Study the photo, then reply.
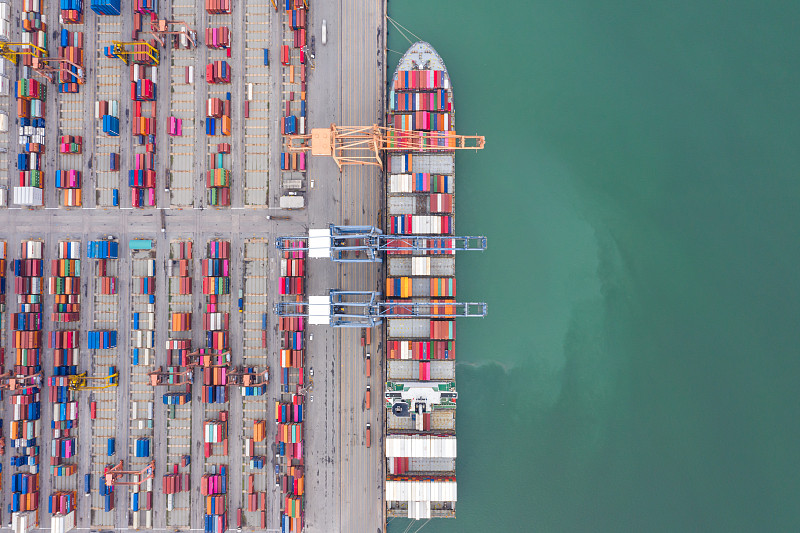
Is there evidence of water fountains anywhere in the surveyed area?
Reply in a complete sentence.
No, no water fountain is visible in the scene.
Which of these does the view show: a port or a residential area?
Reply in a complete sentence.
This looks like a port.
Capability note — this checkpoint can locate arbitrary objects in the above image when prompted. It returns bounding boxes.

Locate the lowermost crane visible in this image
[106,462,154,487]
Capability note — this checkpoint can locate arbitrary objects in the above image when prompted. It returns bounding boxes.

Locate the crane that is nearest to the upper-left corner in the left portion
[0,40,48,65]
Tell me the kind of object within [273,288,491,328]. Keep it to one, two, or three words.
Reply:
container crane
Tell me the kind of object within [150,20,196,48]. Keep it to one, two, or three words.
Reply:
container crane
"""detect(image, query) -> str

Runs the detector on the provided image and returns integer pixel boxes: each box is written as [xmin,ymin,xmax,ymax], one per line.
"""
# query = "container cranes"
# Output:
[148,368,194,388]
[150,20,196,48]
[0,372,43,393]
[274,126,489,175]
[32,57,84,82]
[188,349,231,369]
[227,368,270,388]
[273,288,491,328]
[106,462,154,487]
[273,224,491,264]
[69,371,119,392]
[0,40,48,65]
[112,40,159,65]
